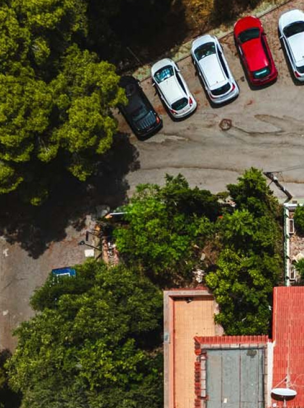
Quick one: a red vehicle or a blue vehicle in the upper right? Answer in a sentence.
There is a red vehicle in the upper right.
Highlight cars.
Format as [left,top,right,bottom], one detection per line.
[278,9,304,84]
[234,16,279,88]
[191,34,241,107]
[150,57,199,123]
[116,73,169,145]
